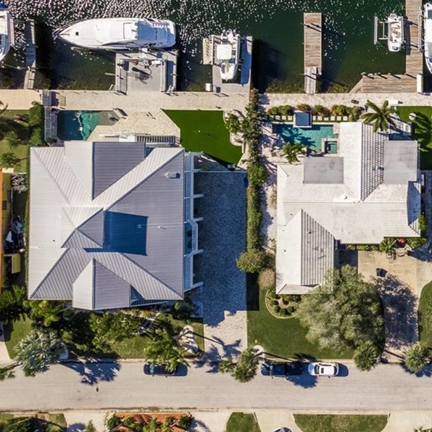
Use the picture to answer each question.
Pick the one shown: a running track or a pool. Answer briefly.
pool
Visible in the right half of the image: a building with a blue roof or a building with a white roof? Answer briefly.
building with a white roof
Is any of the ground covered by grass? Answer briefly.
Yes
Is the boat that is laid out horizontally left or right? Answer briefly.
left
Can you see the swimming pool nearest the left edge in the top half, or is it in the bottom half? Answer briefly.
top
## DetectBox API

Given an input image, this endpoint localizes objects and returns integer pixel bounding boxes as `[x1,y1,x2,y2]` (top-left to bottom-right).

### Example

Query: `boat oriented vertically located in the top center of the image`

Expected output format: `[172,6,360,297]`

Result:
[217,29,238,79]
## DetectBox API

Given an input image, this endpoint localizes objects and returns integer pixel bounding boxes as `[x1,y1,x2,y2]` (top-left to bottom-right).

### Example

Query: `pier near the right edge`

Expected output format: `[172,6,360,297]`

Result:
[351,0,424,92]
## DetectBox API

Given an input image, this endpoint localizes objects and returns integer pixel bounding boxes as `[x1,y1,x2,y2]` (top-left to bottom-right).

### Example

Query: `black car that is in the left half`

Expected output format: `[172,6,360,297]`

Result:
[144,363,178,379]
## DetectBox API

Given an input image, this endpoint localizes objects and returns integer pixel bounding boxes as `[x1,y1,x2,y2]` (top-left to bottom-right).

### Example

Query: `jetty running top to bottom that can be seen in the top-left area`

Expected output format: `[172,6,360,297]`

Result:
[23,17,46,90]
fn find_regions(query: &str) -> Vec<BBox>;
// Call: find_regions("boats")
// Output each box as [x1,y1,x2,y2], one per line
[217,29,238,79]
[0,0,15,68]
[51,18,180,50]
[425,0,432,70]
[388,10,403,51]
